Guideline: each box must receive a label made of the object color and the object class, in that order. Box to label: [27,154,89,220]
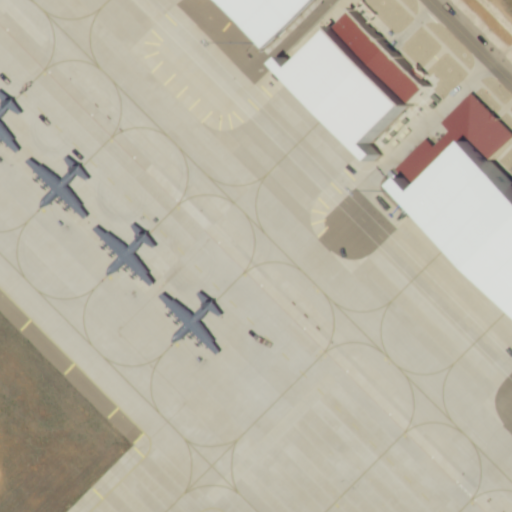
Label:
gray airplane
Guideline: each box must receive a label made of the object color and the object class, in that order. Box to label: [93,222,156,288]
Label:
gray airplane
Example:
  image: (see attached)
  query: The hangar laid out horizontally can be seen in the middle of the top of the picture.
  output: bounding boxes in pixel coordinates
[212,0,314,48]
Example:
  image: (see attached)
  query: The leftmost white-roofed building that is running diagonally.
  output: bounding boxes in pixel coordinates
[265,30,404,160]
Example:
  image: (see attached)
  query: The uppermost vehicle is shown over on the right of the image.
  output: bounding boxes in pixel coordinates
[442,2,457,16]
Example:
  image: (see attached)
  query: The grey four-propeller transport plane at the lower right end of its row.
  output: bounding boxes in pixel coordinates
[159,290,222,355]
